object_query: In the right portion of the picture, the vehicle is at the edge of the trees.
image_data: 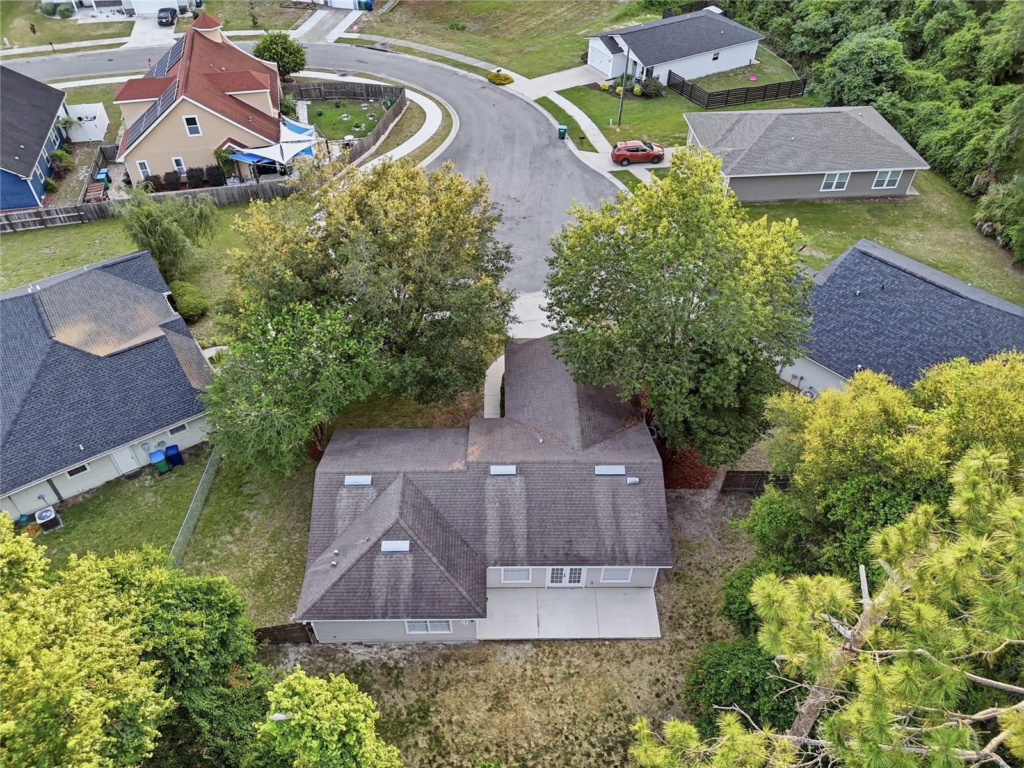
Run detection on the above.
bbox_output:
[614,140,665,165]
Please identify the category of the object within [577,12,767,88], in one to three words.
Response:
house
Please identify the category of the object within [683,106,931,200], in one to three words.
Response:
house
